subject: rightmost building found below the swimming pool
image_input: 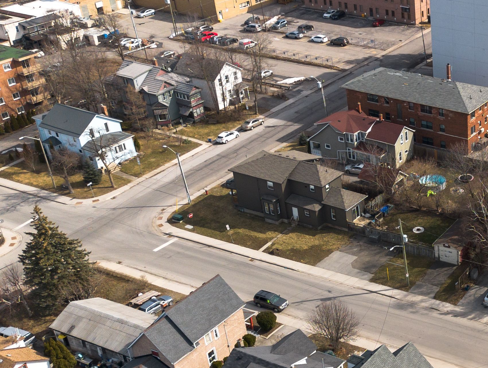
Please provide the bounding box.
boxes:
[434,221,469,264]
